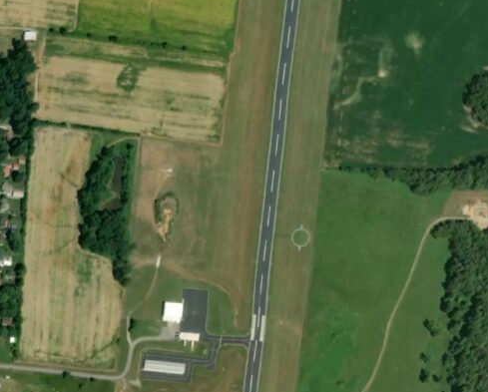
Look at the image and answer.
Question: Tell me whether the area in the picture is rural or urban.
rural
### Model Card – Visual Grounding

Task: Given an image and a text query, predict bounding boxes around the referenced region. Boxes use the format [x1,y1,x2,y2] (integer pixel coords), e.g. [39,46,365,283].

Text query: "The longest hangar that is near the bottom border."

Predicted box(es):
[143,360,185,374]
